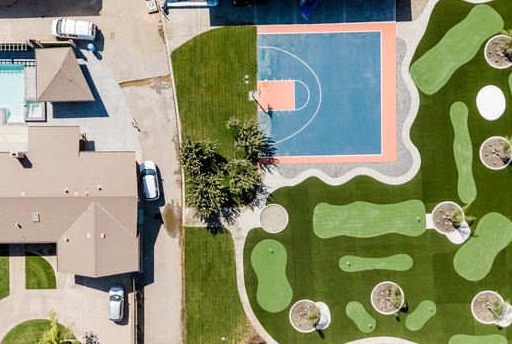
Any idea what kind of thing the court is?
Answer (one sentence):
The court can be classified as a basketball court.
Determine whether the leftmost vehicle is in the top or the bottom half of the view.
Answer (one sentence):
The top half of the photo is where the leftmost vehicle is.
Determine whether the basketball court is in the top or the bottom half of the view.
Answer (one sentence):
You can find the basketball court in the top half.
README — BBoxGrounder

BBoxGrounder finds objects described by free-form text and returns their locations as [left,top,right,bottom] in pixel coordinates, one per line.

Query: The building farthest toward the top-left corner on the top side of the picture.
[36,46,95,102]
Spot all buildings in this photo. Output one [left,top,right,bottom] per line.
[0,126,141,277]
[36,46,95,102]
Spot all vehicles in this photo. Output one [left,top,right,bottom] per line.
[108,283,126,320]
[52,18,100,42]
[139,160,160,201]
